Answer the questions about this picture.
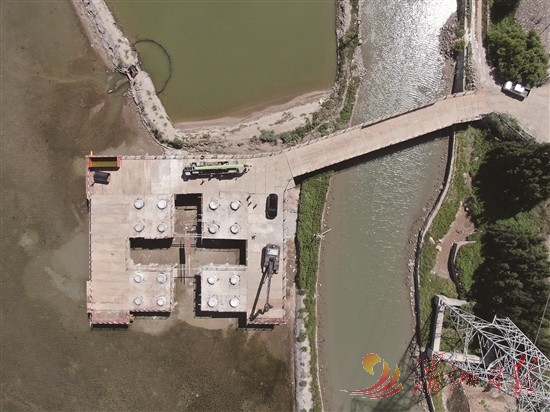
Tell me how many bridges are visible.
one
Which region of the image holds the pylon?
bottom right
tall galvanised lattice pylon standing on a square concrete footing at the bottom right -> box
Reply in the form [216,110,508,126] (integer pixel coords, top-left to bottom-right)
[425,298,550,412]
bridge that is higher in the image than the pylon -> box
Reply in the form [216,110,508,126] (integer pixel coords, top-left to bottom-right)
[284,90,488,178]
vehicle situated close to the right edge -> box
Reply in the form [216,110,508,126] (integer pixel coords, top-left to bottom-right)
[504,82,535,100]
